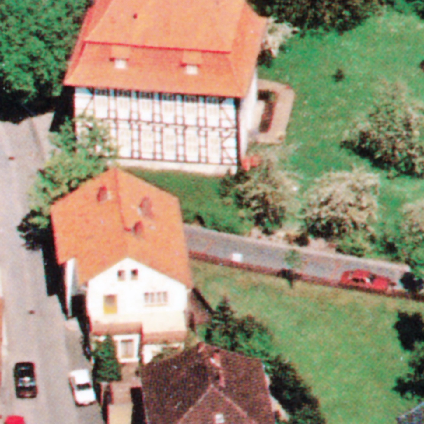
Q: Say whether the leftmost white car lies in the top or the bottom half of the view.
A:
bottom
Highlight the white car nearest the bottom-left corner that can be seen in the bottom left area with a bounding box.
[68,367,96,403]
